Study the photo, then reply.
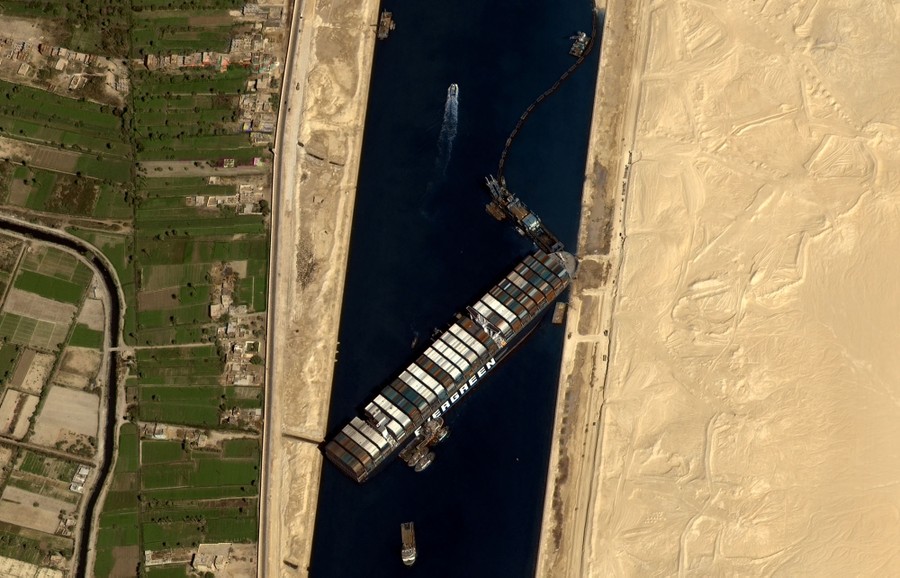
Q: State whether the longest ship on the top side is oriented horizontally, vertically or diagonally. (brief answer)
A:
diagonally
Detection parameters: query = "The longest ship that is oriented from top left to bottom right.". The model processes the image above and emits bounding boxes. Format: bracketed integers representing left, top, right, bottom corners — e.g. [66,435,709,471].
[485,175,565,254]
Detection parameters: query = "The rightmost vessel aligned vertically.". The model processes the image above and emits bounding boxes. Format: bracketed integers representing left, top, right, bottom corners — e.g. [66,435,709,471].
[552,303,565,324]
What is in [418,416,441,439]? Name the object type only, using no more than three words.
vessel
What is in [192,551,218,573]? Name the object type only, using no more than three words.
house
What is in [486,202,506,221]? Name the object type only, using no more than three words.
ship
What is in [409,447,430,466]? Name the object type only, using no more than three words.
boat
